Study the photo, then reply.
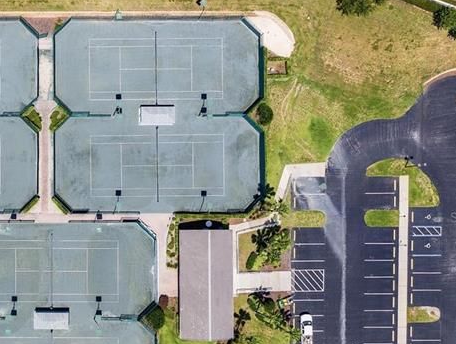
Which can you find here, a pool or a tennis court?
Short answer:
tennis court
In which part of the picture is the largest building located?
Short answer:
bottom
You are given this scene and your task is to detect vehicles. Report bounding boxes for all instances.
[301,315,316,344]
